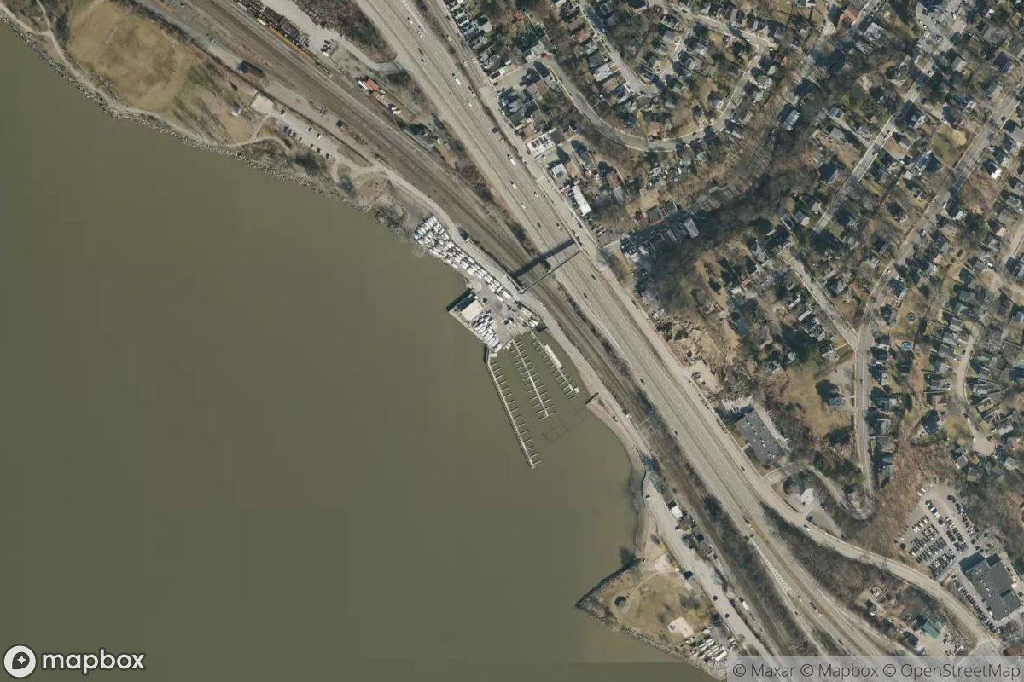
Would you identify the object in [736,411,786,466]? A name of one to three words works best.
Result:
building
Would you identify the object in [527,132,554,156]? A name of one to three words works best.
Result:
building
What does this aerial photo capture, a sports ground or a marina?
marina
